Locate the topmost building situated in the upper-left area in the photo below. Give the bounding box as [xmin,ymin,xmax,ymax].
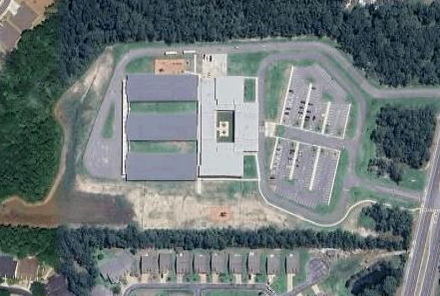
[10,2,36,29]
